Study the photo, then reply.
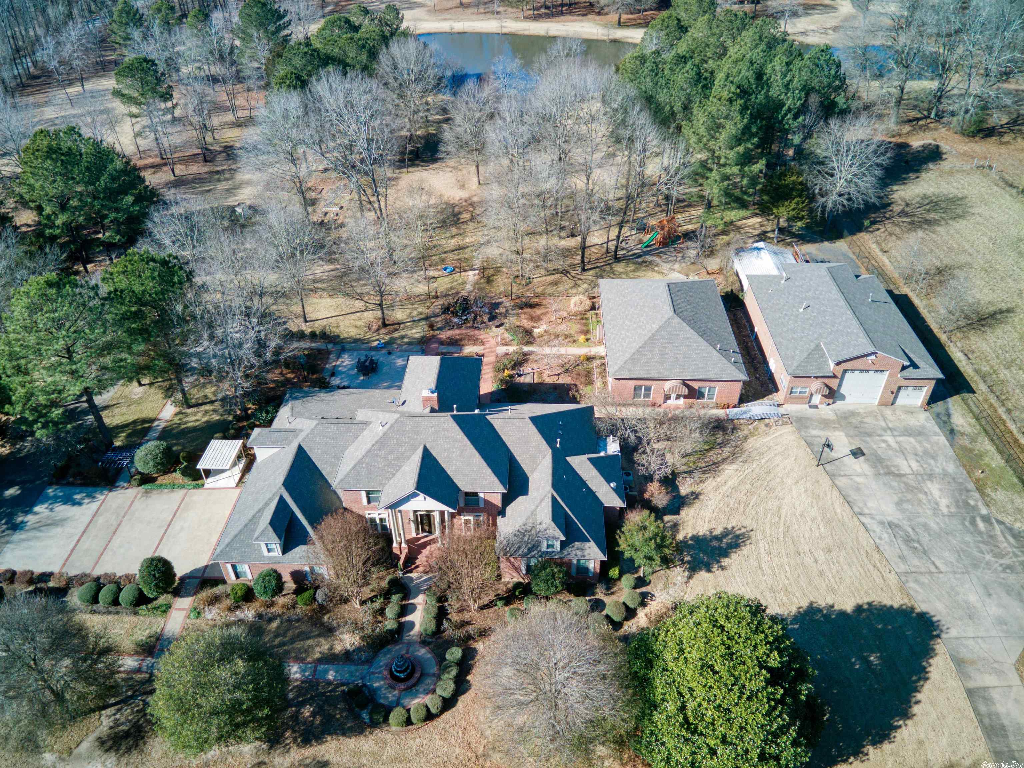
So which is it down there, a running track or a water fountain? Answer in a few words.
water fountain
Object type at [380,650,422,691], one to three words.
fountain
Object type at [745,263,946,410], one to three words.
building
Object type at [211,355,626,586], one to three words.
house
